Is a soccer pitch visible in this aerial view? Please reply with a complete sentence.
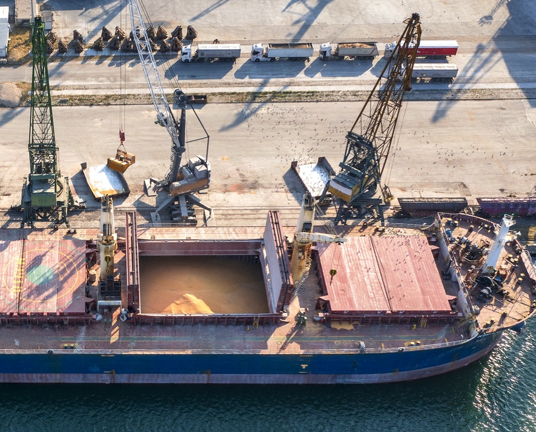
No, no soccer pitch is visible in the scene.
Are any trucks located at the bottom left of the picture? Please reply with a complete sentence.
No, I can find no truck at the bottom left of the picture.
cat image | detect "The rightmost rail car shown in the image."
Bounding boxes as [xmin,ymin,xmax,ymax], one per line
[469,189,536,213]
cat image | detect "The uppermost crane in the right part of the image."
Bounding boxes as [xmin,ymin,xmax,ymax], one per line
[315,8,427,231]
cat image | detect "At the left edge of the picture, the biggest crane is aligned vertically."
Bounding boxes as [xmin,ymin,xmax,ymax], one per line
[8,12,85,231]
